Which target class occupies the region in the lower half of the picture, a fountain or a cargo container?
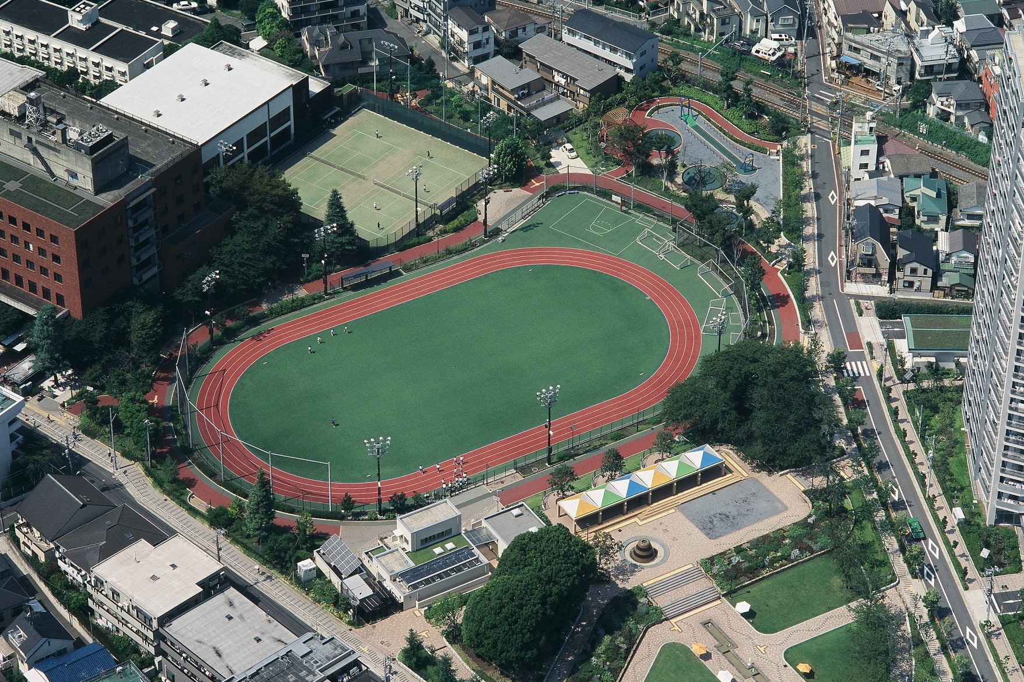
fountain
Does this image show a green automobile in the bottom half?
Yes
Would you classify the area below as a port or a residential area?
residential area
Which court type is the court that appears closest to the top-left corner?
tennis court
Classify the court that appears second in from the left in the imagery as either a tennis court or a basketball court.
tennis court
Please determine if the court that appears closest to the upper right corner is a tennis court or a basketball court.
basketball court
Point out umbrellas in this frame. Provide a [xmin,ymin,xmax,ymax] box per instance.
[691,643,708,660]
[717,671,733,682]
[796,663,812,680]
[735,602,751,619]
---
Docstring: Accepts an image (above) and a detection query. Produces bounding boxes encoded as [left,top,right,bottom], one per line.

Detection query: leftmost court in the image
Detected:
[272,129,401,209]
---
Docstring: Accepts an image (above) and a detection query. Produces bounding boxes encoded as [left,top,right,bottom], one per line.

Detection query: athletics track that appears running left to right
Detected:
[199,247,698,503]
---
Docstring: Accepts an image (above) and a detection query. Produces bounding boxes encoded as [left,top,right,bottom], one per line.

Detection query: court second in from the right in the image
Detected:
[340,156,467,238]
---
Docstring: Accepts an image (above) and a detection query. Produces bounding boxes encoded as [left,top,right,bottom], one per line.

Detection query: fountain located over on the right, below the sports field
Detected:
[623,540,666,571]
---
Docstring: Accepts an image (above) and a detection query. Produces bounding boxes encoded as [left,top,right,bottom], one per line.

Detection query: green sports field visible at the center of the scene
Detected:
[189,191,745,510]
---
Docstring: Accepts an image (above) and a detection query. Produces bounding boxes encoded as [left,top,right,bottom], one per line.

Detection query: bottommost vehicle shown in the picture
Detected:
[906,518,927,541]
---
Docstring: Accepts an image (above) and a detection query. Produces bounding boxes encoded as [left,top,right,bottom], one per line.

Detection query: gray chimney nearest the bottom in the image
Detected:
[54,122,68,143]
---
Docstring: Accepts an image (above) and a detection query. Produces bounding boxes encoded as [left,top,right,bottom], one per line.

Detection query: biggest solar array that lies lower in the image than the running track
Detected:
[321,534,361,577]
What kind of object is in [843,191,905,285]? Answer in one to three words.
house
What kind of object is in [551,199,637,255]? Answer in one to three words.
basketball court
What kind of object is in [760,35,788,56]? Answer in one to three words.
vehicle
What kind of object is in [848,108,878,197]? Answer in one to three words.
house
